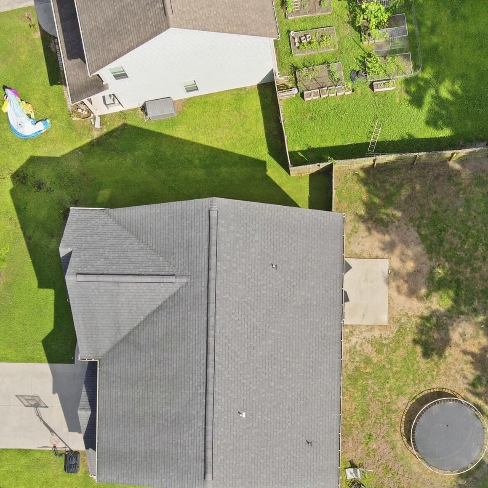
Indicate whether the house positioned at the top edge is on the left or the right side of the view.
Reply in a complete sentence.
You can find the house positioned at the top edge on the left side of the picture.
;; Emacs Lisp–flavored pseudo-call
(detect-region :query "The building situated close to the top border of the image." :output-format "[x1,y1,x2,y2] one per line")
[48,0,281,123]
